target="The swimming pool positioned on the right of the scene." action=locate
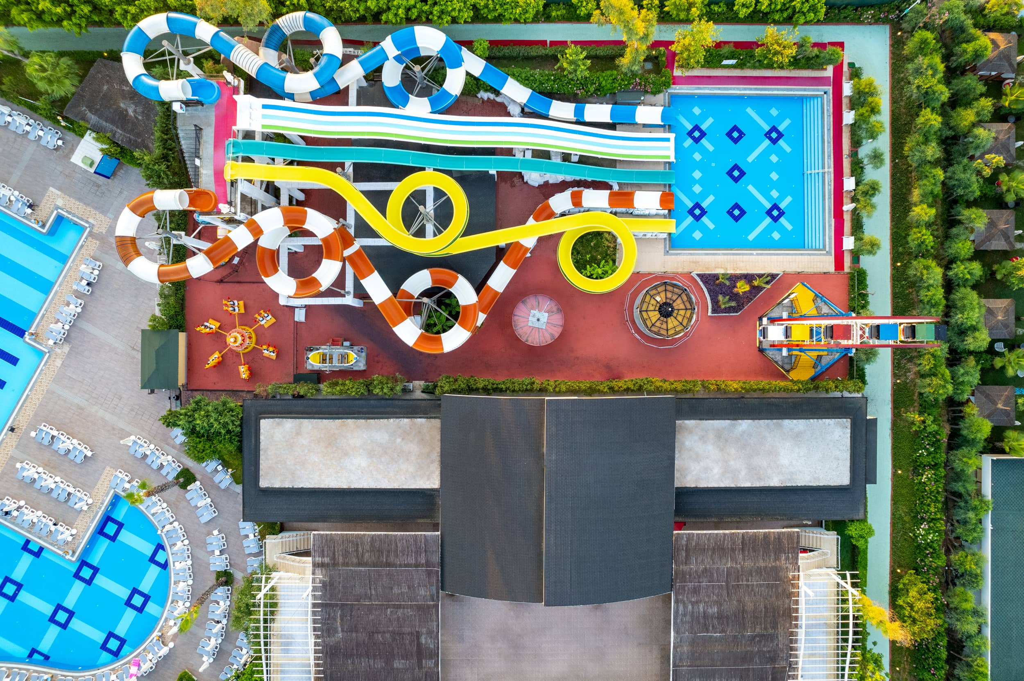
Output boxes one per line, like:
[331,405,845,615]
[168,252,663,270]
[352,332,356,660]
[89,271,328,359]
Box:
[671,94,823,249]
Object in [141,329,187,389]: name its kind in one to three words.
shed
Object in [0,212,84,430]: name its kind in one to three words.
swimming pool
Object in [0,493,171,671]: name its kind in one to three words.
swimming pool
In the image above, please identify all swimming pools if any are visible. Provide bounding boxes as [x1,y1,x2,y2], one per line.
[671,94,823,249]
[0,212,84,430]
[0,493,171,671]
